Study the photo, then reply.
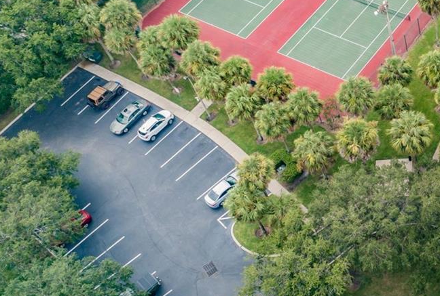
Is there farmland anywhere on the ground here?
No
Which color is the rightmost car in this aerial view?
white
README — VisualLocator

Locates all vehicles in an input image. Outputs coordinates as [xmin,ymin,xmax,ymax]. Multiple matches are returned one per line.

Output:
[65,204,96,239]
[200,167,241,205]
[130,262,165,296]
[106,98,148,132]
[133,108,173,140]
[82,77,122,106]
